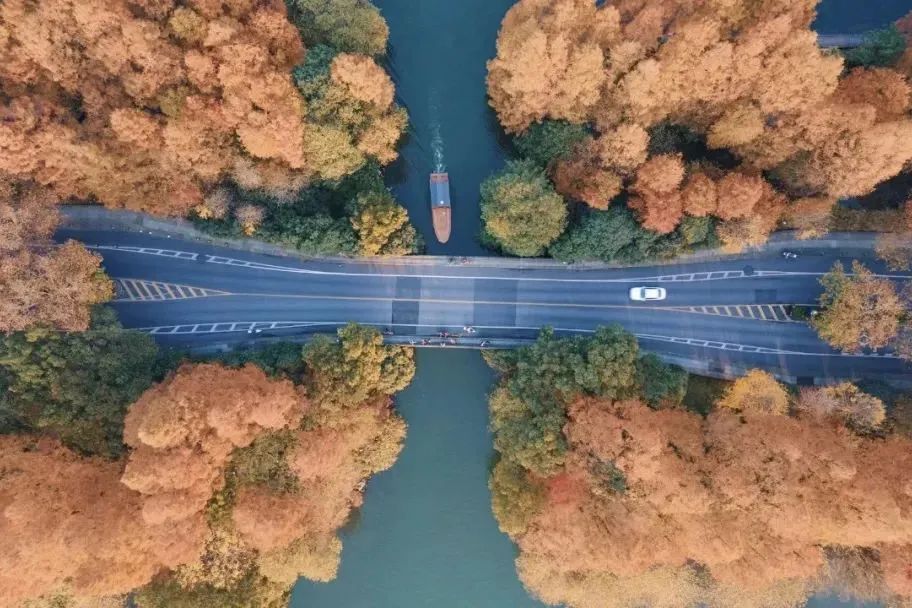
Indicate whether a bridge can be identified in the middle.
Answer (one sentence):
Yes, in the middle there is a bridge.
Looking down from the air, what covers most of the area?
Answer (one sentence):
For the most part, this view shows trees.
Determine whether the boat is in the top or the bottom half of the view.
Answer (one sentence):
It is in the top half that the boat appears.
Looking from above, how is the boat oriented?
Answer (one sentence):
The boat is oriented up and down.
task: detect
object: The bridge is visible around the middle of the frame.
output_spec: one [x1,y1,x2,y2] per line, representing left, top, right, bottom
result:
[395,256,510,351]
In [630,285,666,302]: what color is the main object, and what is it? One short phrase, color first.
white car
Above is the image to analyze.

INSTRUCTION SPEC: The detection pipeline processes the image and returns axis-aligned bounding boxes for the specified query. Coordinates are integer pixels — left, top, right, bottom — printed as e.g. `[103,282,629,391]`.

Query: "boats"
[430,171,451,243]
